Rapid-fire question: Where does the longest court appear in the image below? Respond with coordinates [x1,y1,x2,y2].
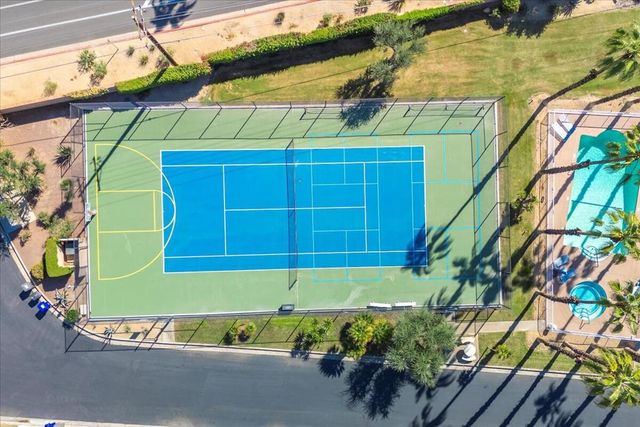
[83,101,504,321]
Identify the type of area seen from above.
sports ground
